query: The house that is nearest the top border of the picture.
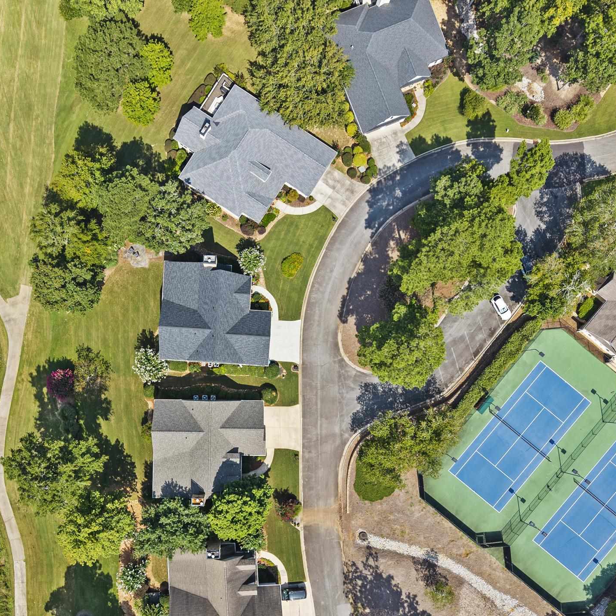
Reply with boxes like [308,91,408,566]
[331,0,451,137]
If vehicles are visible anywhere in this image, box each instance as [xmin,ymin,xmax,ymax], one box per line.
[517,249,538,276]
[488,293,510,321]
[282,588,309,603]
